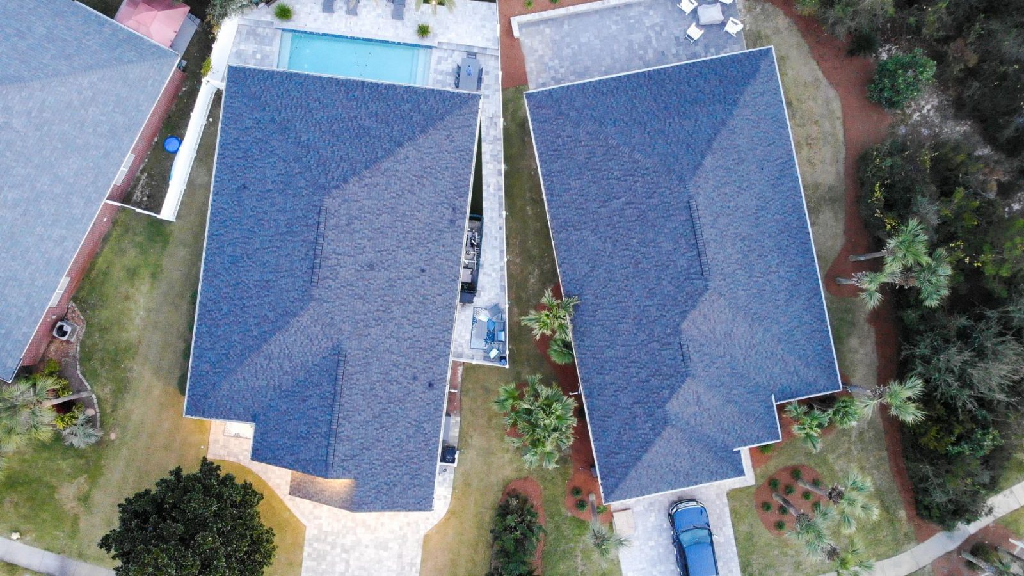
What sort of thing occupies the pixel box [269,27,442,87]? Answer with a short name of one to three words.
swimming pool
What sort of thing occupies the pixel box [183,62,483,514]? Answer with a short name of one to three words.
house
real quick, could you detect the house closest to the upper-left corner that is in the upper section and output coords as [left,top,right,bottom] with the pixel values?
[0,0,188,386]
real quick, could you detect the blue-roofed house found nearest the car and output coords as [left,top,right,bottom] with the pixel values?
[521,42,843,507]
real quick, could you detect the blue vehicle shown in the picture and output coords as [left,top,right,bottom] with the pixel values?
[667,499,720,576]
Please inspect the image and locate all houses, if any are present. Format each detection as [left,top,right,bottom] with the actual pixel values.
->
[521,42,843,507]
[183,62,483,514]
[0,0,188,386]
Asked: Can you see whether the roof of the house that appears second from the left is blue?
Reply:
Yes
